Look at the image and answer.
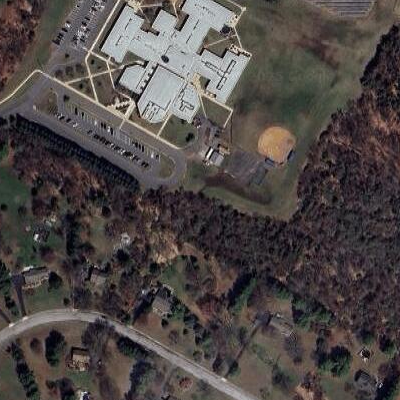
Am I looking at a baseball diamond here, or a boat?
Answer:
baseball diamond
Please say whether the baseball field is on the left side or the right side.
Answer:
right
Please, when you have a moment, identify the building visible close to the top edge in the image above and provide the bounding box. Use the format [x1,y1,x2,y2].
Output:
[101,0,251,123]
